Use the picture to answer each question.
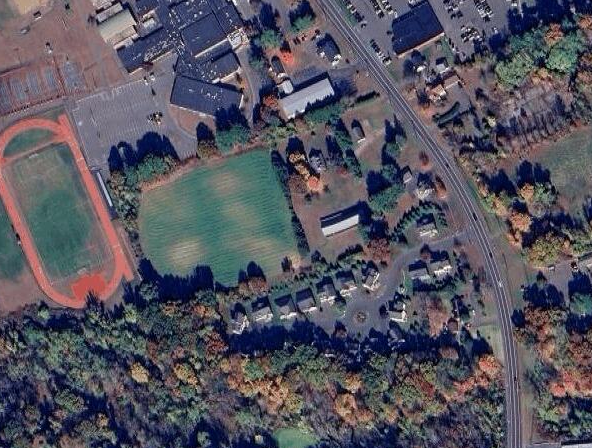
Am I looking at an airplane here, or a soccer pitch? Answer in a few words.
soccer pitch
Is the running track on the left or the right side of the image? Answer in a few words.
left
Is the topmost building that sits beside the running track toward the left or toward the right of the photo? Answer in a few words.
left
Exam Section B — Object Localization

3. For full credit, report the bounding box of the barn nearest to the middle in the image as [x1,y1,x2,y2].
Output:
[318,209,361,238]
